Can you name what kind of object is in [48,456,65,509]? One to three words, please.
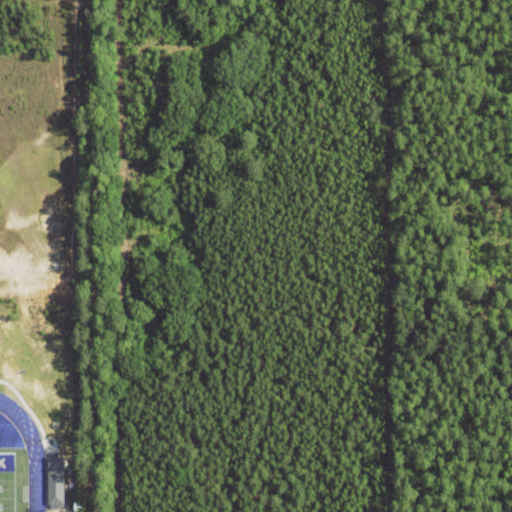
building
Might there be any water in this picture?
No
